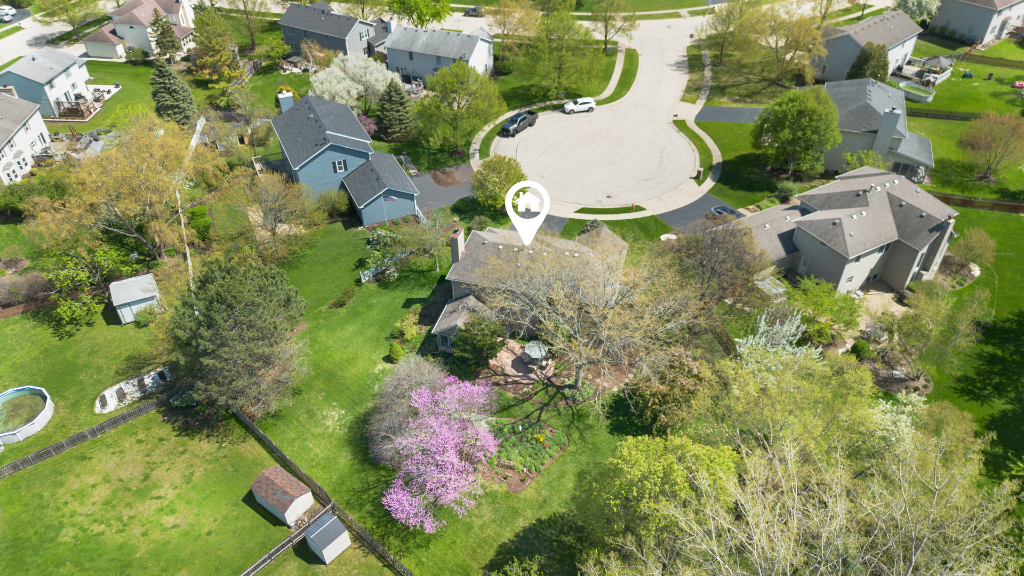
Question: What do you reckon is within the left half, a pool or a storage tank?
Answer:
pool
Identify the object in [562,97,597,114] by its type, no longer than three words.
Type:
car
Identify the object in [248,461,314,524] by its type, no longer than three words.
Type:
shed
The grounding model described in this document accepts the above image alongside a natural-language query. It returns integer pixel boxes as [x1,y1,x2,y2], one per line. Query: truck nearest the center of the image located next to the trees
[500,112,538,136]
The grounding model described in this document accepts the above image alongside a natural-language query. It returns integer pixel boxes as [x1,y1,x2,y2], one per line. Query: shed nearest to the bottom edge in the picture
[303,512,351,564]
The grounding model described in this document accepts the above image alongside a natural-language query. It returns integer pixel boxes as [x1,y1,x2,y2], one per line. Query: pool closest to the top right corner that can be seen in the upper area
[892,83,942,104]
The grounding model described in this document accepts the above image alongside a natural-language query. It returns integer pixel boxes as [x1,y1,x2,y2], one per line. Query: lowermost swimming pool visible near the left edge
[0,386,57,446]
